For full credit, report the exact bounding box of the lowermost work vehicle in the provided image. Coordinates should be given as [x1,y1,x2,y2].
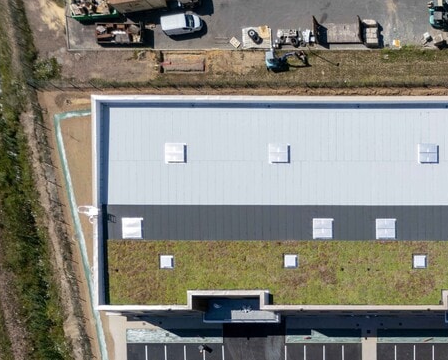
[265,47,302,71]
